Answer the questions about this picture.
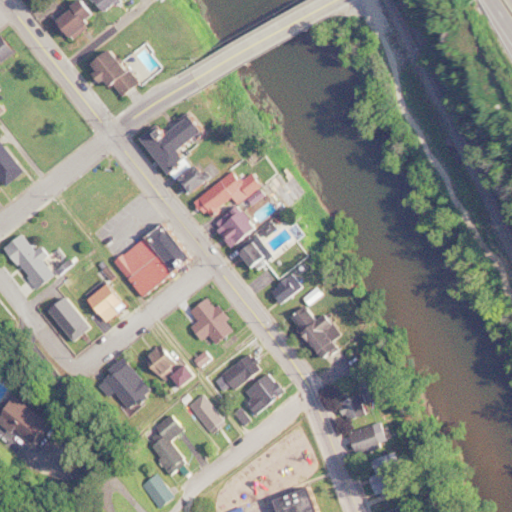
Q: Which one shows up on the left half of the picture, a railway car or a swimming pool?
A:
swimming pool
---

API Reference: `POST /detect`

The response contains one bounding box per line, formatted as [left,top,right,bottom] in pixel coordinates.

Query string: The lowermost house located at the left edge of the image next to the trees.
[0,396,36,438]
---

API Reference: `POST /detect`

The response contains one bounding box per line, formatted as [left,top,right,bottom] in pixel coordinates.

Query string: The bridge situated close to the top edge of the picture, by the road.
[186,0,358,93]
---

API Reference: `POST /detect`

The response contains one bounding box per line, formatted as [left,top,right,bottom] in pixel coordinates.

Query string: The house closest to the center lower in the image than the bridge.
[238,236,272,268]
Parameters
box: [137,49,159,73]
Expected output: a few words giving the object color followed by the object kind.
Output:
white swimming pool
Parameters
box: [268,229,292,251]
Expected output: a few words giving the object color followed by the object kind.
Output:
blue swimming pool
